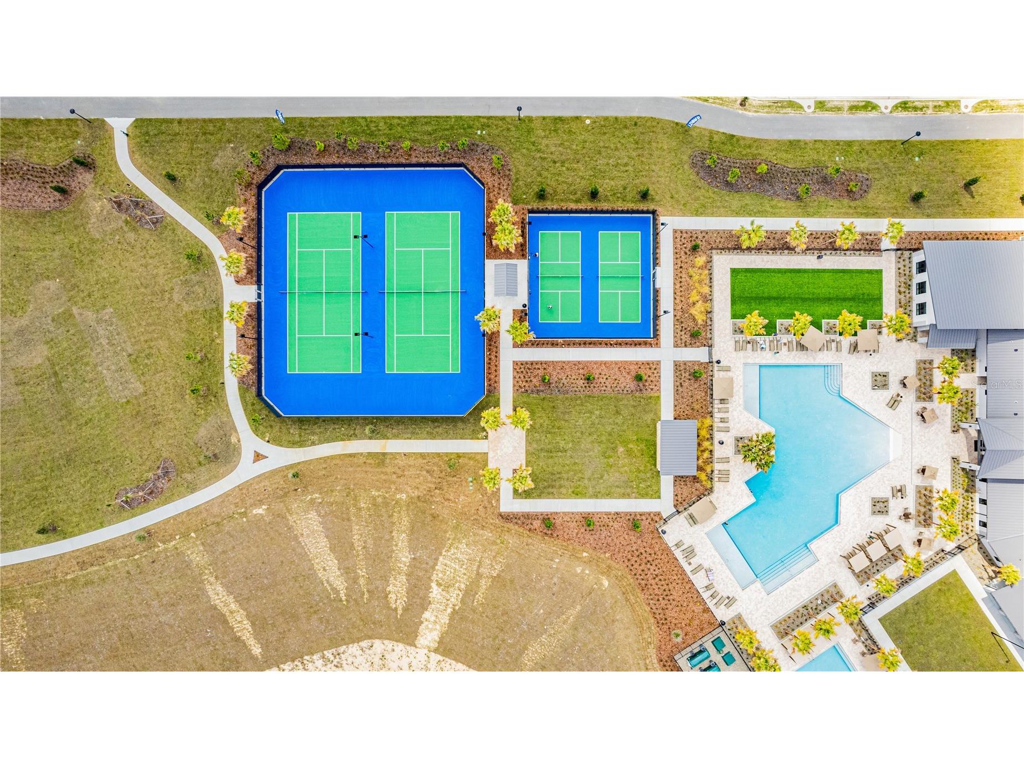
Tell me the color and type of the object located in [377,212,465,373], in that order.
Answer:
green tennis court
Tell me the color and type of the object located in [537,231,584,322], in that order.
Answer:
green sports court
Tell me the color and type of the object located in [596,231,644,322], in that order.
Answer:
green sports court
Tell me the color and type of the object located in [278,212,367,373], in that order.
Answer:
green tennis court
